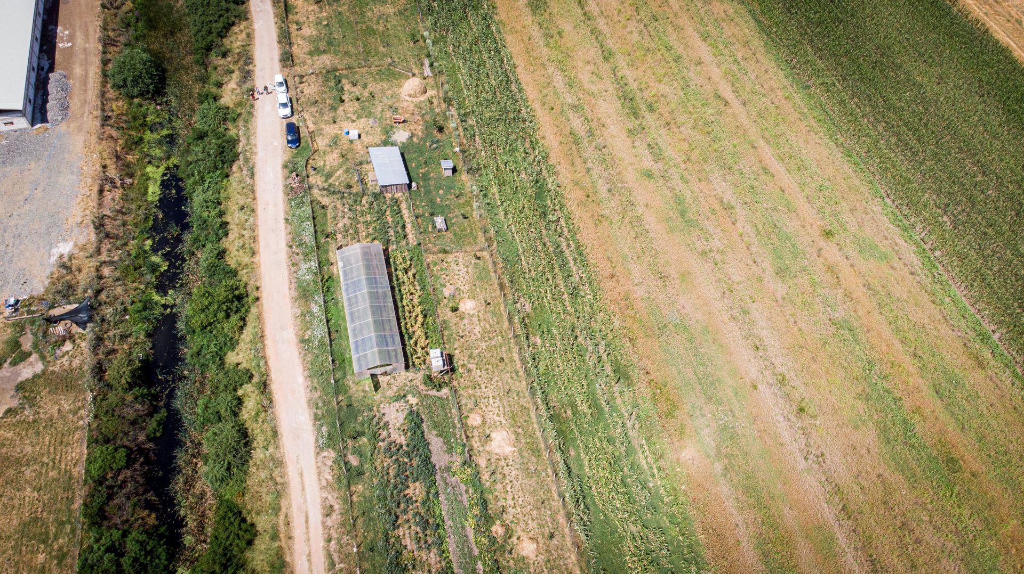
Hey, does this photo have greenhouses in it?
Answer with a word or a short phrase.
Yes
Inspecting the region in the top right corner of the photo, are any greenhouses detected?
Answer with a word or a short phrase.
No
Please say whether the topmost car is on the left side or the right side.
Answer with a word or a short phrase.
left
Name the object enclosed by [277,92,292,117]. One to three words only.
car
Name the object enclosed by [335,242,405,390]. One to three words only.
greenhouse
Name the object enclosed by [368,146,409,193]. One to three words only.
shed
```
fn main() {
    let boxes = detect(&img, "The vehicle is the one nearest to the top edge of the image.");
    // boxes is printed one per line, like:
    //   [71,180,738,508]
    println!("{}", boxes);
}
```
[269,70,289,93]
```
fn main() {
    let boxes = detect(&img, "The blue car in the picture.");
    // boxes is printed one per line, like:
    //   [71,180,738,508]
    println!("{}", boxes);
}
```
[284,121,299,147]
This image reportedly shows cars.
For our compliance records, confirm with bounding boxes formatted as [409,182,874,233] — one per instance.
[284,121,299,147]
[277,92,292,117]
[269,70,289,93]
